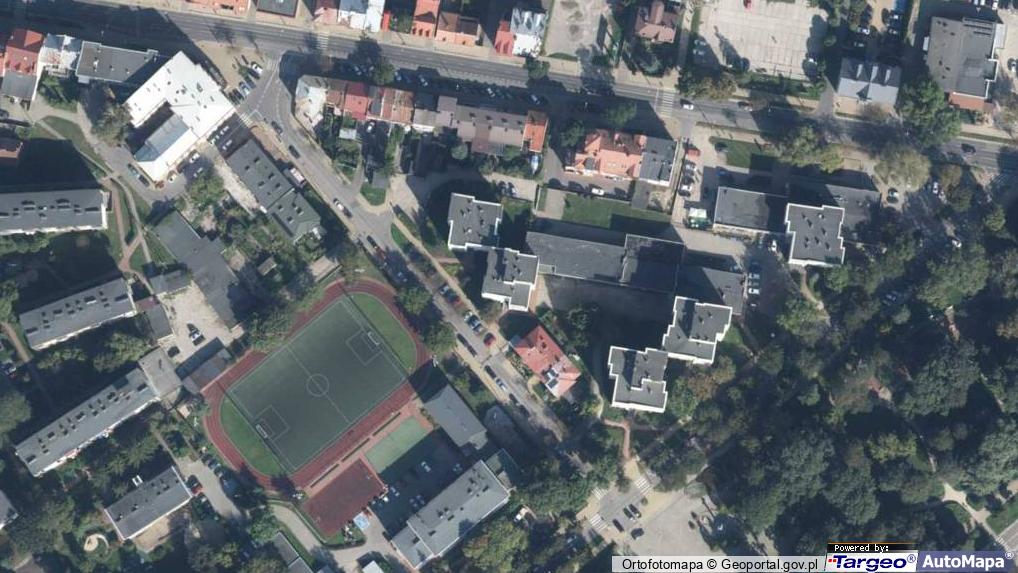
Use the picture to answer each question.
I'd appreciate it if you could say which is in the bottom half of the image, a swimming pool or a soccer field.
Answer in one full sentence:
The one visible in the bottom half of the image is a soccer field.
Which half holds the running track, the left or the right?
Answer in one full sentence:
It is on the left.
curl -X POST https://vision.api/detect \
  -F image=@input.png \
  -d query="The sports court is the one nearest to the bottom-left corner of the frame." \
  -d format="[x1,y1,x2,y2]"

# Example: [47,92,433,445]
[304,460,387,537]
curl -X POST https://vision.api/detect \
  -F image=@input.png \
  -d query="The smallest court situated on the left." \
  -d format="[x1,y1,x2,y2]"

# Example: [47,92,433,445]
[366,416,428,474]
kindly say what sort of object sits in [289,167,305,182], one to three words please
vehicle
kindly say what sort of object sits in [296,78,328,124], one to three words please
house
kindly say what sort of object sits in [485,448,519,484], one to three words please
building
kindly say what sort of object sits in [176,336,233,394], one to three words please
shed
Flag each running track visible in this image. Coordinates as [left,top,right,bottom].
[202,277,434,492]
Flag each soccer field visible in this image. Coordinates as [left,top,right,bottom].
[225,297,409,474]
